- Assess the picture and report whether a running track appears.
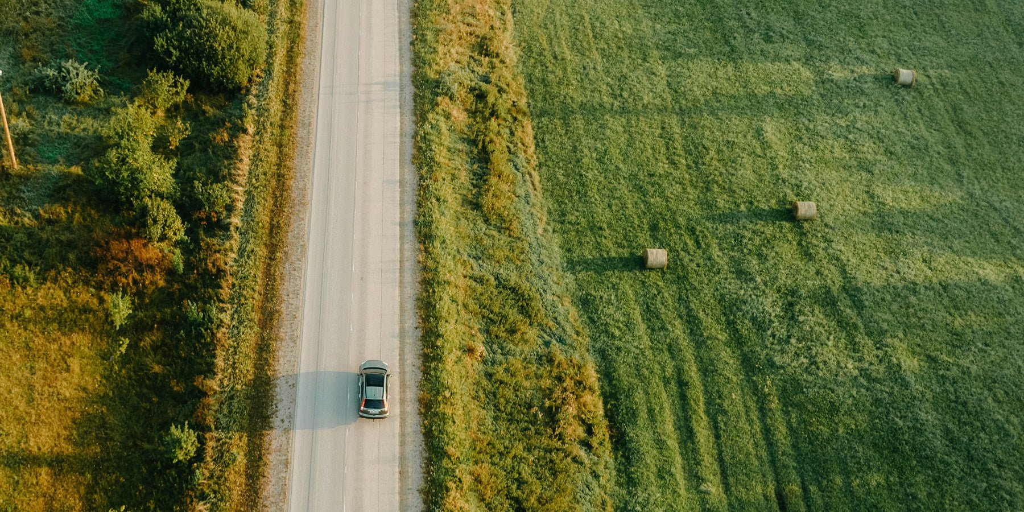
No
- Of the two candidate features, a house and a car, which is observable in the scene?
car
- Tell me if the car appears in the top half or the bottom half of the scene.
bottom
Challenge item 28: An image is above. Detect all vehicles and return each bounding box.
[355,361,391,420]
